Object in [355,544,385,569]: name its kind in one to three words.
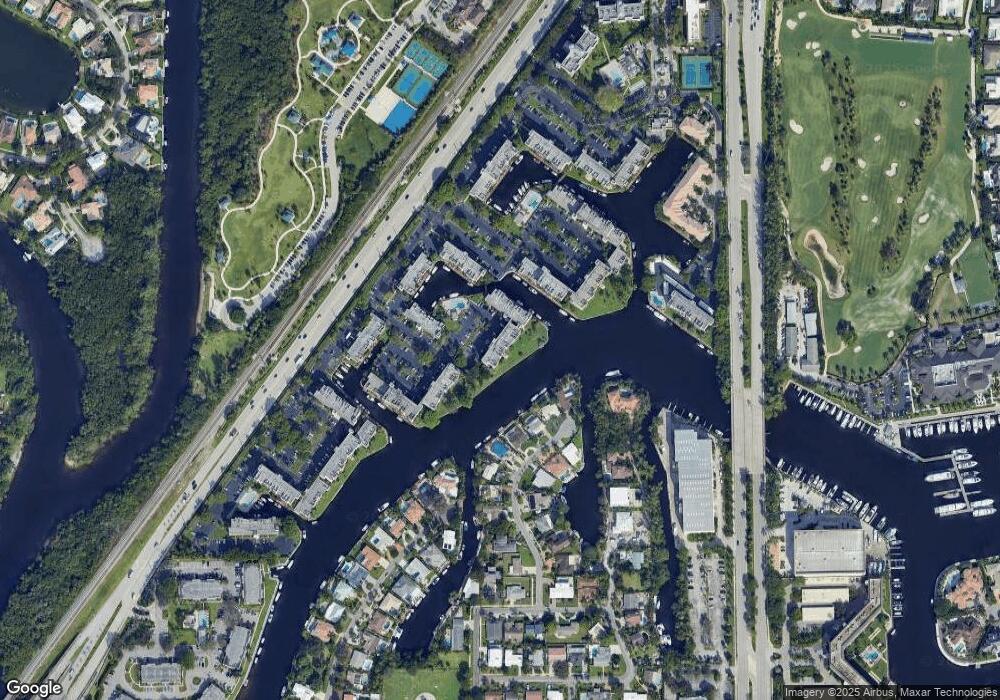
house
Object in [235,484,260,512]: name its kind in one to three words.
swimming pool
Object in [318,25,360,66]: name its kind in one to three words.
playground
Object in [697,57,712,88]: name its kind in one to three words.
tennis court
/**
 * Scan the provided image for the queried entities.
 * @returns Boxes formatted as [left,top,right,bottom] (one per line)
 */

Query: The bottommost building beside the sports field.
[913,332,1000,405]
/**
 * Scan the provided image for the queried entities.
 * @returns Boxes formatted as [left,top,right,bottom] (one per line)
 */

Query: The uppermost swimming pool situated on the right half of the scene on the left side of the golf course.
[599,60,628,87]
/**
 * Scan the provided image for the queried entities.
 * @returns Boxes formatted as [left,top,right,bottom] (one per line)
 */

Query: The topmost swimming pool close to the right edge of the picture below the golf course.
[941,574,958,593]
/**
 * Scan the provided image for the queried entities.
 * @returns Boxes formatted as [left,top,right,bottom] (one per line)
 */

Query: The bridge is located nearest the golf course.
[730,388,766,473]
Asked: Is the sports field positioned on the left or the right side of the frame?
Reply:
right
